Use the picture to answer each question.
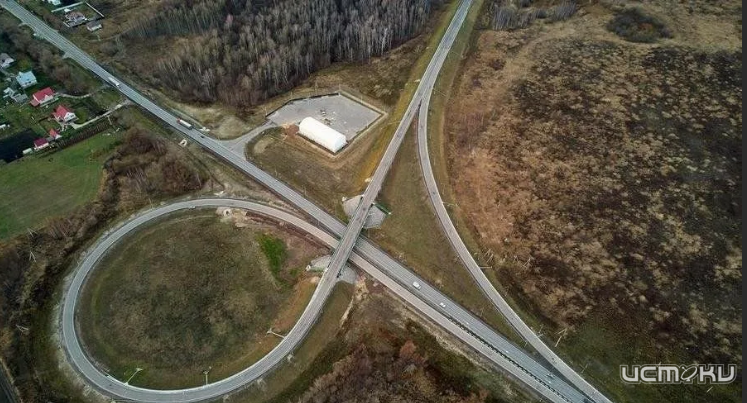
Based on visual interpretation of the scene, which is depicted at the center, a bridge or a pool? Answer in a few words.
bridge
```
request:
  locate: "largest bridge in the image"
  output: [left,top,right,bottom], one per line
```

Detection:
[309,197,396,283]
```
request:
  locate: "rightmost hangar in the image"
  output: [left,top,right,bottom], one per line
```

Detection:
[297,117,350,153]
